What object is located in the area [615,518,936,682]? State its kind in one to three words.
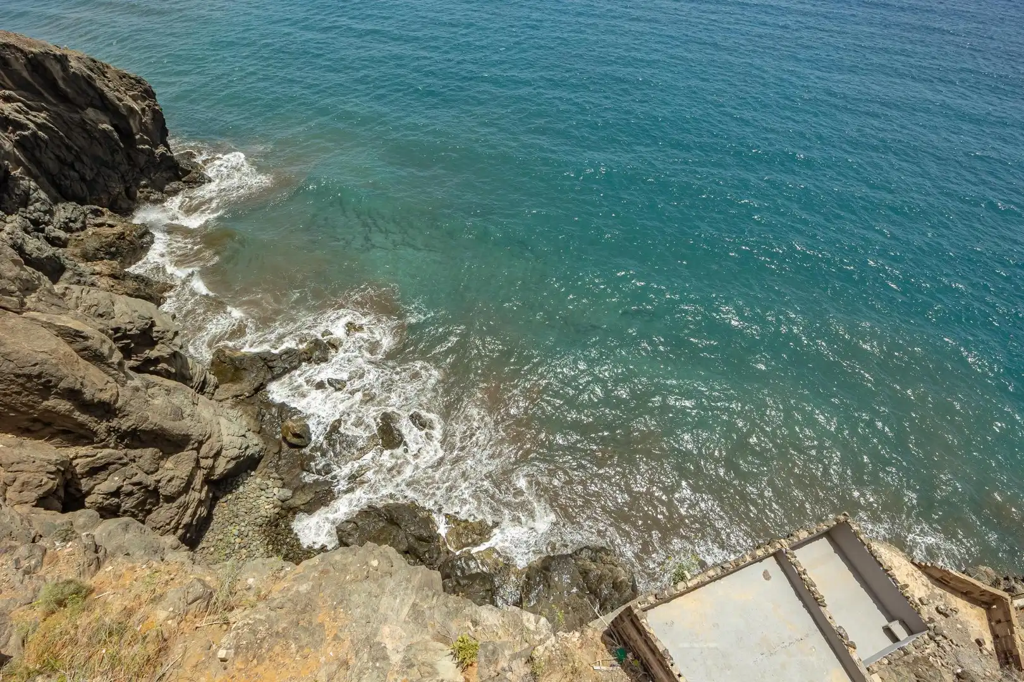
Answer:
building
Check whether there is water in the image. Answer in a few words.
Yes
